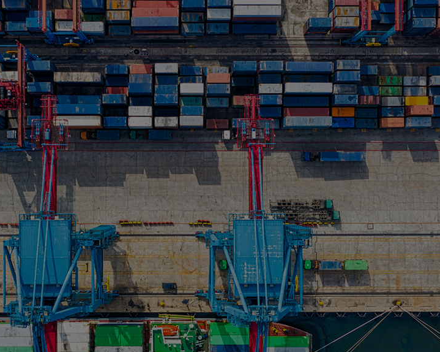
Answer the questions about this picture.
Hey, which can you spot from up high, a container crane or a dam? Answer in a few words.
container crane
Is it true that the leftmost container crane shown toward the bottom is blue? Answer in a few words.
Yes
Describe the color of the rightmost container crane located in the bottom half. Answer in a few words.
blue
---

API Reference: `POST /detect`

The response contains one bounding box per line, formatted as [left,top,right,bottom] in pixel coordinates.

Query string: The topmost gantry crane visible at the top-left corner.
[37,0,97,48]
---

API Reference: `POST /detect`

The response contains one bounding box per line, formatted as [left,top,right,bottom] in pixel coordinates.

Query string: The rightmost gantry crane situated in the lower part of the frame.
[196,93,319,352]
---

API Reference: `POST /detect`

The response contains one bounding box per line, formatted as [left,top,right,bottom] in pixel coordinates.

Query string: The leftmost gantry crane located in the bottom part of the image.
[0,93,120,352]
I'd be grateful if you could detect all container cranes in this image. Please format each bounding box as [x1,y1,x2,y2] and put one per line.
[0,93,120,352]
[37,0,97,48]
[337,0,405,48]
[196,93,319,352]
[0,37,48,153]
